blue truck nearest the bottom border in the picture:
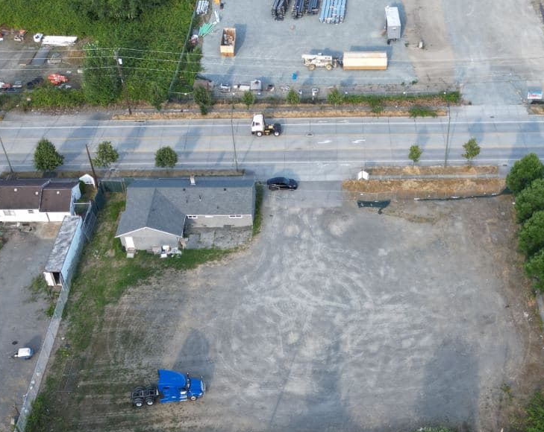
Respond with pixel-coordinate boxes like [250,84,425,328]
[133,373,206,409]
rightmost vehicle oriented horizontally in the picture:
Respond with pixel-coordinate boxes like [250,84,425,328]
[304,57,344,71]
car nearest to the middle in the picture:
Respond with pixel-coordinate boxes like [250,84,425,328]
[266,176,298,190]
